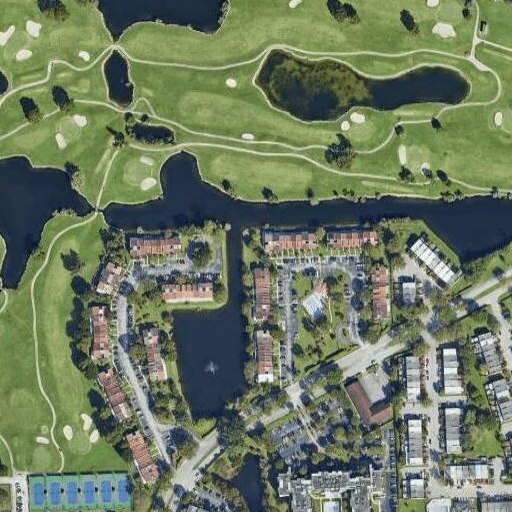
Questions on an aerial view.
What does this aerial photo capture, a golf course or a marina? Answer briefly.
golf course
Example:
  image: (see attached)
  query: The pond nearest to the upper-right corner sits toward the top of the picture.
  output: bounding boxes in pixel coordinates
[256,51,469,122]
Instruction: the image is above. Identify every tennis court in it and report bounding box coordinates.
[114,475,131,508]
[98,475,114,508]
[29,475,47,508]
[64,475,81,508]
[81,475,98,508]
[47,475,64,508]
